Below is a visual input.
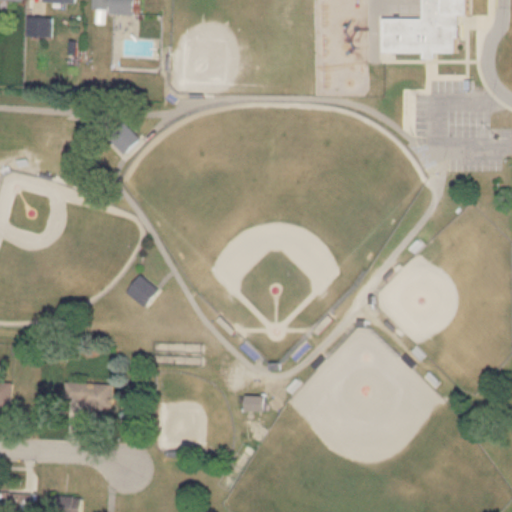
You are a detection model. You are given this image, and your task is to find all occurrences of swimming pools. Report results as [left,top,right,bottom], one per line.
[122,39,154,58]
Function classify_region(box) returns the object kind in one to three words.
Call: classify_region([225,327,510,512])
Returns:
baseball field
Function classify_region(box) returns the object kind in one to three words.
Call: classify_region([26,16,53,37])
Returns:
building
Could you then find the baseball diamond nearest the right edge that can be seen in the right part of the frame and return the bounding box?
[378,206,512,390]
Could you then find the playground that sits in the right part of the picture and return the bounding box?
[316,0,370,96]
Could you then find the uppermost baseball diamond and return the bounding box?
[170,0,316,95]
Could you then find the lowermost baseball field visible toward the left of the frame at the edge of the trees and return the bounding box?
[158,400,208,451]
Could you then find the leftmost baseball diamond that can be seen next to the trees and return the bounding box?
[0,172,147,327]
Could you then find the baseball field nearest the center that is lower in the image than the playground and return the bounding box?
[123,102,426,360]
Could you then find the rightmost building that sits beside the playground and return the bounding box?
[380,0,466,60]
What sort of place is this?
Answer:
sports ground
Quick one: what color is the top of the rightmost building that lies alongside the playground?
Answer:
white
